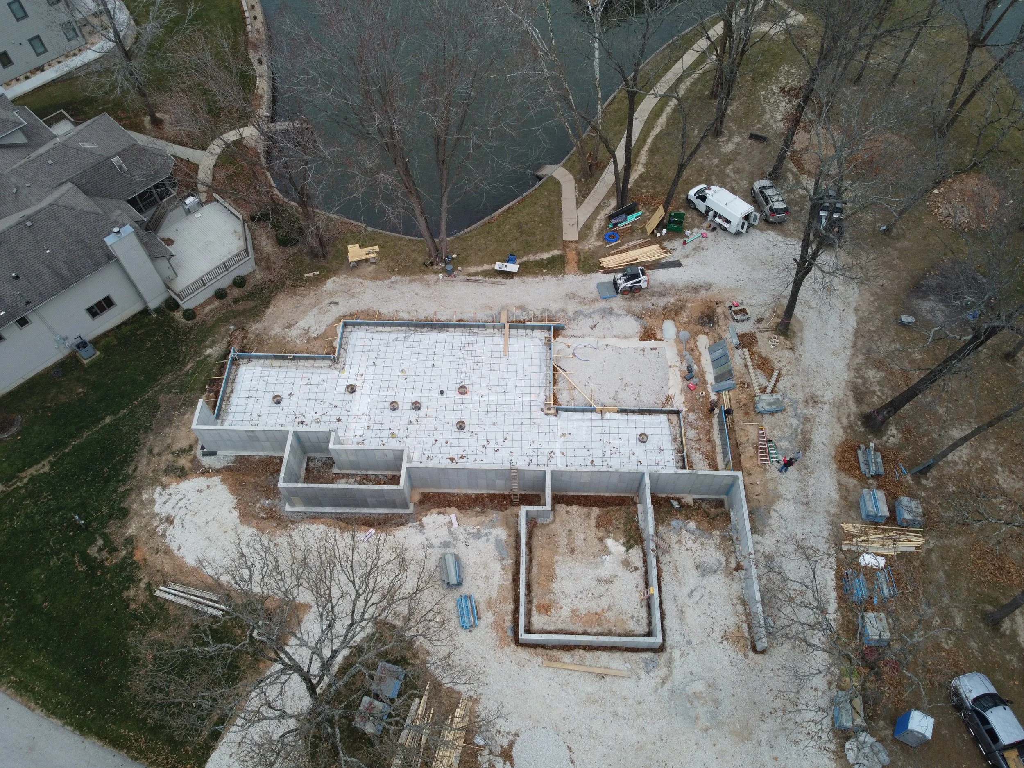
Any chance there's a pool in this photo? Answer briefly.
No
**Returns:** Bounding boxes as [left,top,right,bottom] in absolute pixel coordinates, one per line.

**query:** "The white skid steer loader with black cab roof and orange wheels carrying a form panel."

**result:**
[611,260,651,294]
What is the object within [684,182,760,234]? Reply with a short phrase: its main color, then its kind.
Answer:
white van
